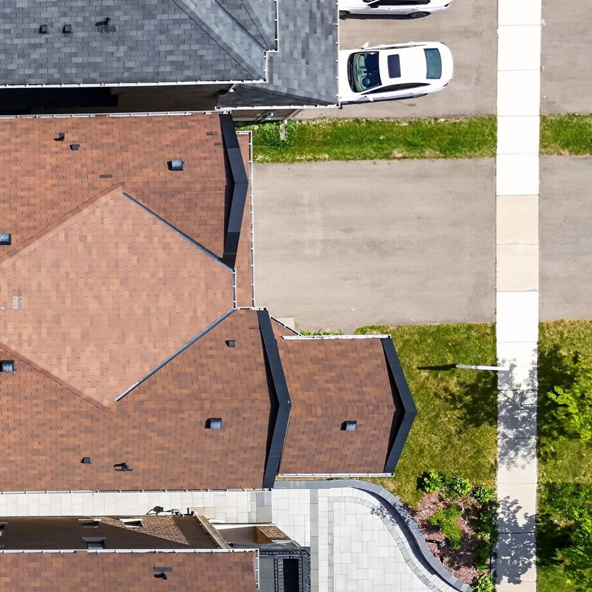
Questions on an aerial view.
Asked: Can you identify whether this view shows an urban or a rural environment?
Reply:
urban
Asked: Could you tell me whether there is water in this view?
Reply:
No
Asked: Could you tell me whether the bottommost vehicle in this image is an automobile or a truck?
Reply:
automobile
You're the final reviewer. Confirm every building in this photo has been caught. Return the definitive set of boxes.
[0,109,414,497]
[0,509,312,592]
